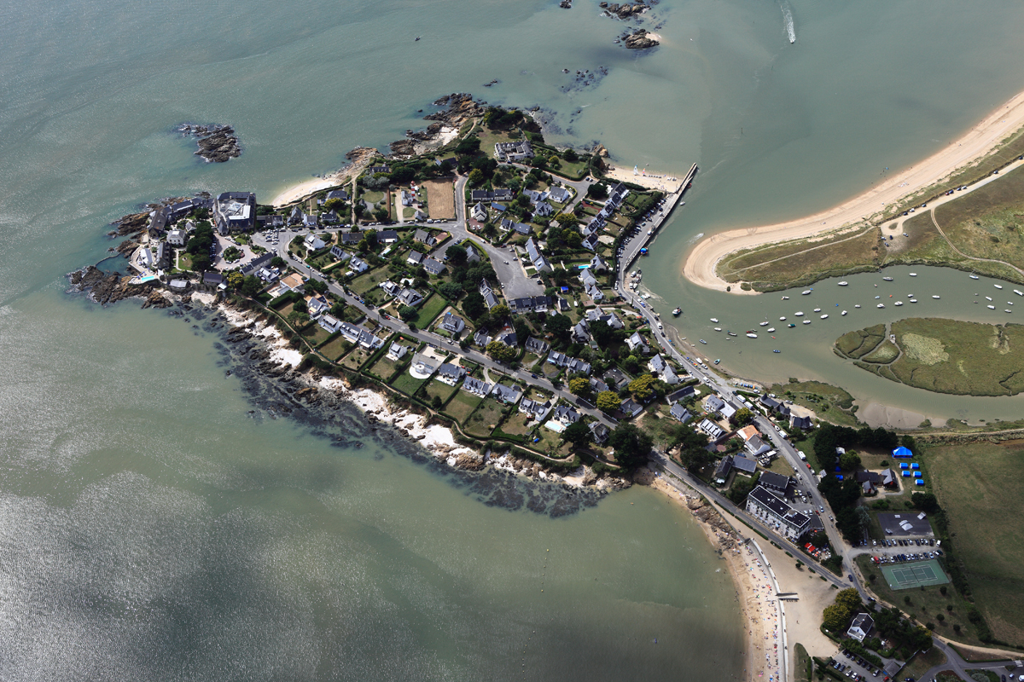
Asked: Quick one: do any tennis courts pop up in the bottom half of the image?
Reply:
Yes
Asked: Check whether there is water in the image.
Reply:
Yes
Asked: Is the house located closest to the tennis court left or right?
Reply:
right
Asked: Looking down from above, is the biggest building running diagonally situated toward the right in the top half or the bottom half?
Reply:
bottom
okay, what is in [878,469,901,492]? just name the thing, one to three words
building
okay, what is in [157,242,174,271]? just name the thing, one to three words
house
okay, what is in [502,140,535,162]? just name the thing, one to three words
shed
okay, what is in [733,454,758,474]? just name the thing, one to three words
house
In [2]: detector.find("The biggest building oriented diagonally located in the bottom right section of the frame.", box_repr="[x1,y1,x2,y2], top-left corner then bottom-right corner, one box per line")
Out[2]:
[747,485,810,539]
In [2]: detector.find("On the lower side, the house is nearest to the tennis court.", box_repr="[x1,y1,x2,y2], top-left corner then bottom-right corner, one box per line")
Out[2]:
[844,615,874,644]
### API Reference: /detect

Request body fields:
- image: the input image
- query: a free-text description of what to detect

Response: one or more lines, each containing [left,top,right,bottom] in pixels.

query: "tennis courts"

[881,555,950,591]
